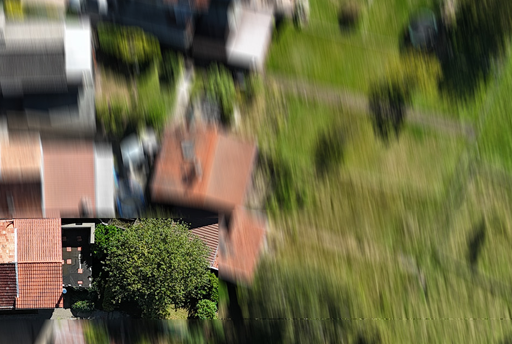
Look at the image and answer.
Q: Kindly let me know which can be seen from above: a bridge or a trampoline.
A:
trampoline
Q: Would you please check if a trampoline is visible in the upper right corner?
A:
Yes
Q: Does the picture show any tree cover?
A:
Yes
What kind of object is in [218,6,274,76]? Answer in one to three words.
shed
